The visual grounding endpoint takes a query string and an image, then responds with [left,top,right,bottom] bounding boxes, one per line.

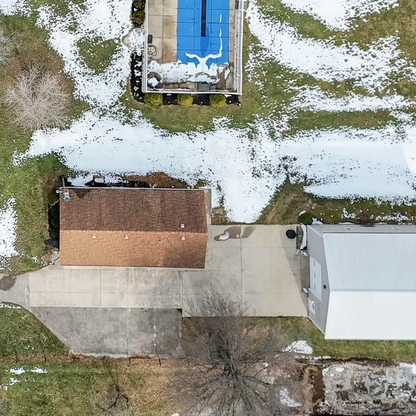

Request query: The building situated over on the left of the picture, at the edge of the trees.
[59,185,210,269]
